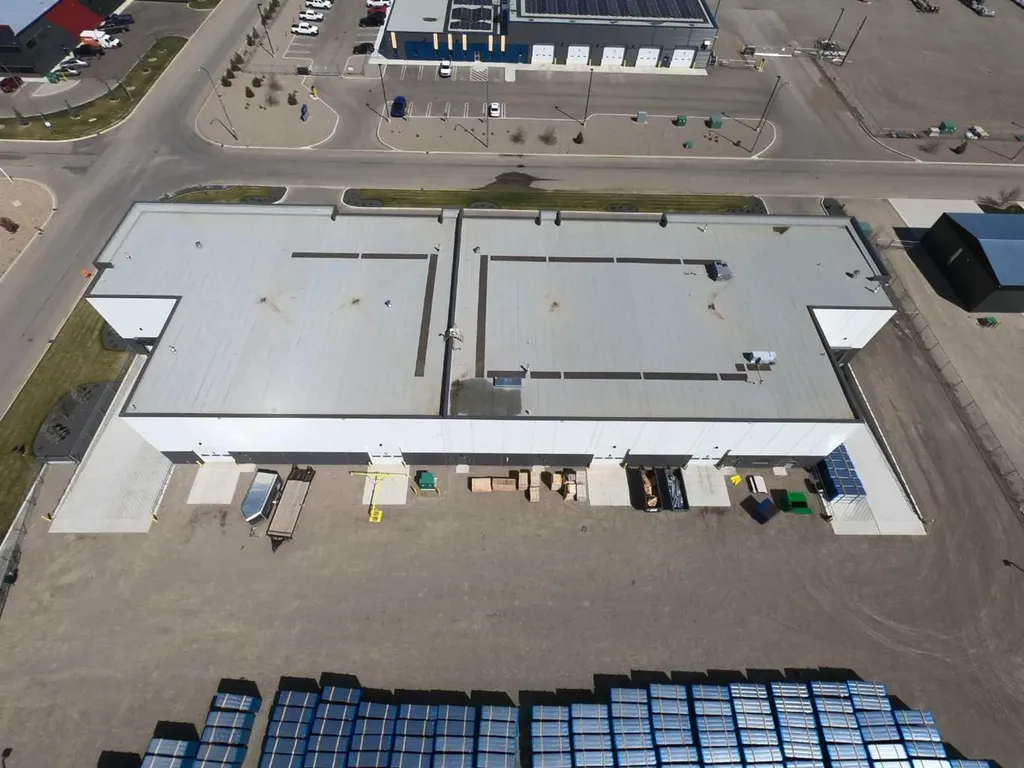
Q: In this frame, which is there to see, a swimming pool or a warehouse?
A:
warehouse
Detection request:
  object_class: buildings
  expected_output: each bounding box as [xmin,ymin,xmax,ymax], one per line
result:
[384,0,719,69]
[0,0,129,76]
[85,202,895,468]
[921,212,1024,312]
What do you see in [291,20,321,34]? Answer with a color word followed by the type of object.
white vehicle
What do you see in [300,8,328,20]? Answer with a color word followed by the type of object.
white vehicle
